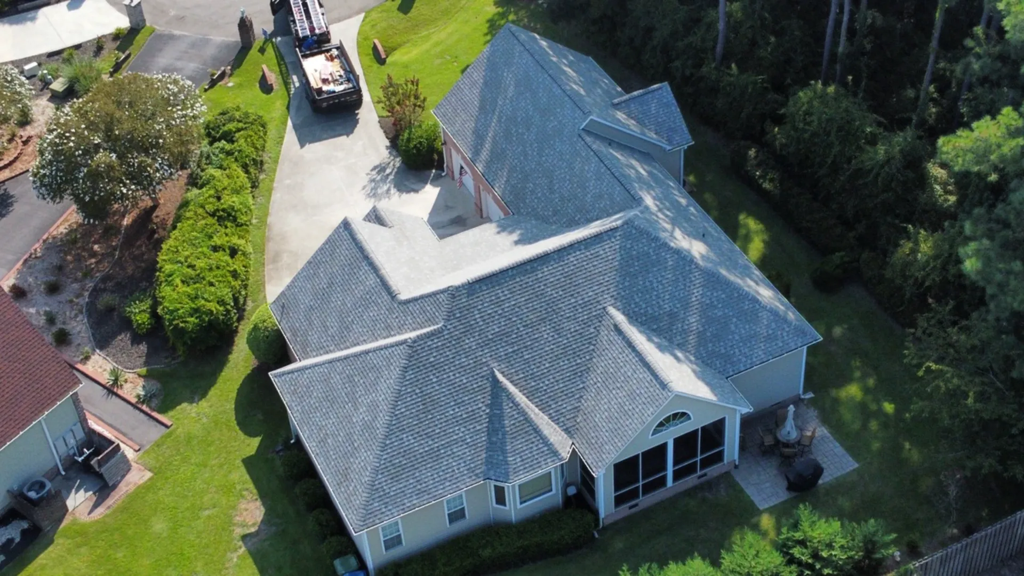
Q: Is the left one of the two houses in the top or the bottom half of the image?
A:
bottom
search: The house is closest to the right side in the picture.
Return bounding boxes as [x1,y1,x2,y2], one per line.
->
[265,23,827,576]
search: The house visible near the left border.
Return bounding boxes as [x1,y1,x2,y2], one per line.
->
[0,287,95,521]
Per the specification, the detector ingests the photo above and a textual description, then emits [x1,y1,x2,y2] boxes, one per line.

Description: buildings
[0,287,95,521]
[265,23,827,576]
